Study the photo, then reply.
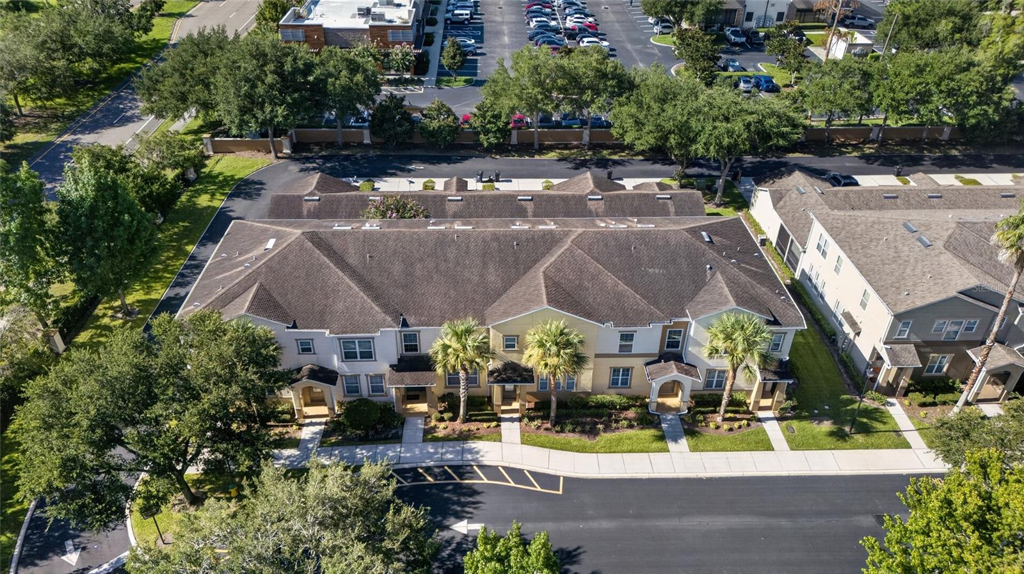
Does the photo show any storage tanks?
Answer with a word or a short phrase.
No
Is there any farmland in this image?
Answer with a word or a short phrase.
No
